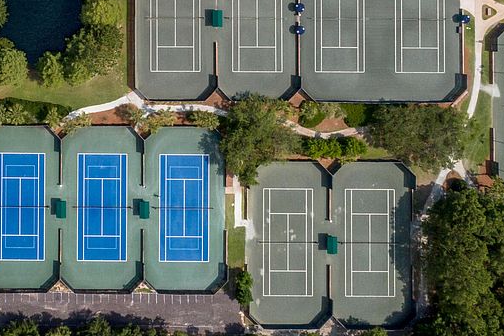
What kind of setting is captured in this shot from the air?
sports ground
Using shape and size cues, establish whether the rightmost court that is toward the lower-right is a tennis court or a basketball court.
tennis court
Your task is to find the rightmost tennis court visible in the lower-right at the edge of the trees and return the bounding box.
[334,164,413,328]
